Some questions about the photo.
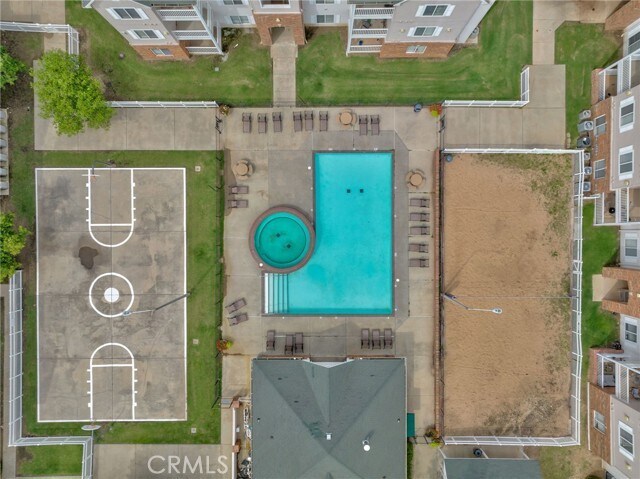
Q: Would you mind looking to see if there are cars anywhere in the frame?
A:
No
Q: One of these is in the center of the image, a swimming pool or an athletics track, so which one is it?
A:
swimming pool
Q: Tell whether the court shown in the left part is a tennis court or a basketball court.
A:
basketball court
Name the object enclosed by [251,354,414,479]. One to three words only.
building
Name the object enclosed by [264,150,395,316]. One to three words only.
swimming pool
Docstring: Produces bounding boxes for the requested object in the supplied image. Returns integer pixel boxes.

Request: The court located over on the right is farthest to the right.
[443,151,574,438]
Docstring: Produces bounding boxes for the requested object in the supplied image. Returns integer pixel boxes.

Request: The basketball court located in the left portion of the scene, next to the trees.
[35,167,188,421]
